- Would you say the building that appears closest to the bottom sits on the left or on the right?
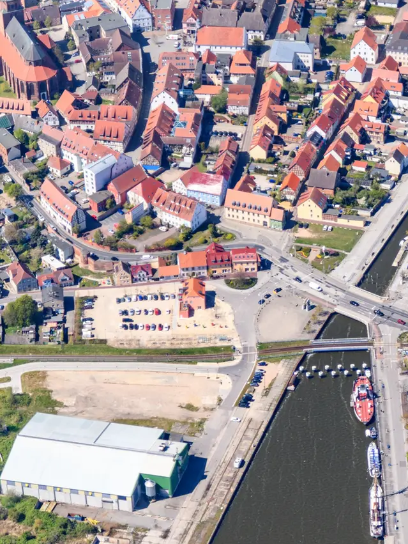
left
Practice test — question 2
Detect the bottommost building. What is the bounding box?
[0,425,181,509]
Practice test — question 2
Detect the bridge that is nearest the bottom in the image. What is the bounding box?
[303,334,379,353]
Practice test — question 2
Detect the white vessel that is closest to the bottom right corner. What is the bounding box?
[369,470,384,544]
